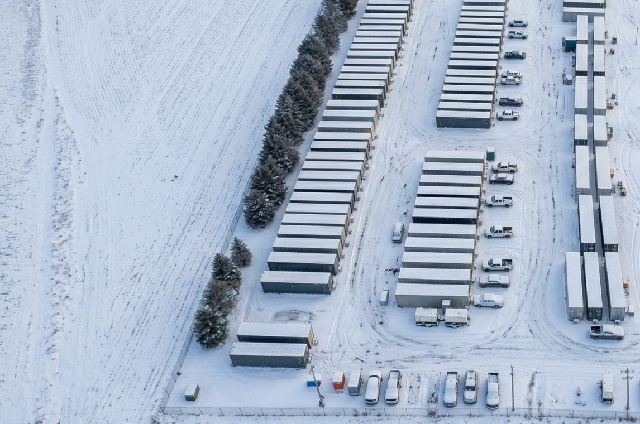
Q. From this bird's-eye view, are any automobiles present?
Yes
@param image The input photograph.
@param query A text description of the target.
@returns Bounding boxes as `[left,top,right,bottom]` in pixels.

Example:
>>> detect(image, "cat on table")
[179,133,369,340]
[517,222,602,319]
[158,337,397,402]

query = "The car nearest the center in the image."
[391,222,404,243]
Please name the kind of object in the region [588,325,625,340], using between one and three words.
vehicle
